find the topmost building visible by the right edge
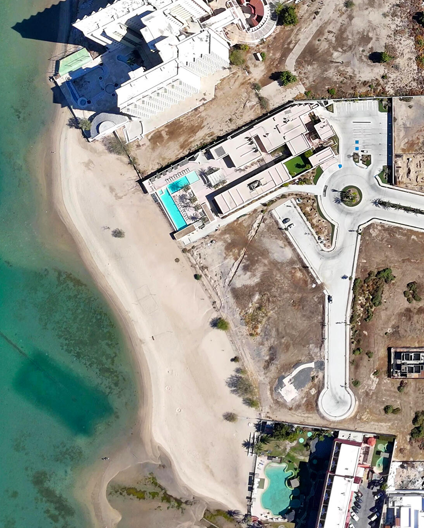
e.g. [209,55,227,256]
[391,347,424,378]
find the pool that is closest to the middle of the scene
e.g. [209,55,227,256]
[155,170,201,232]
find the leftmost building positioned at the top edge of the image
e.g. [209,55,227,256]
[73,0,236,117]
